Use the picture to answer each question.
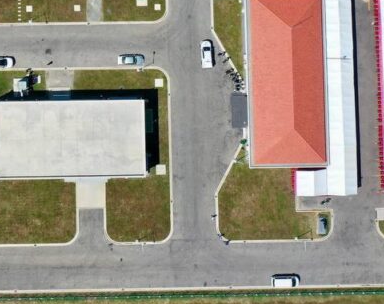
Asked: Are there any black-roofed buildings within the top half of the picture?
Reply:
No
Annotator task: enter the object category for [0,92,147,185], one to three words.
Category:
building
